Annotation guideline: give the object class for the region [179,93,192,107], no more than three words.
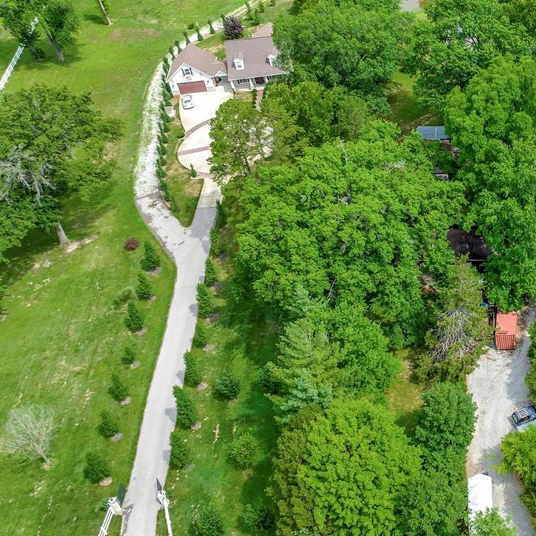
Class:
vehicle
